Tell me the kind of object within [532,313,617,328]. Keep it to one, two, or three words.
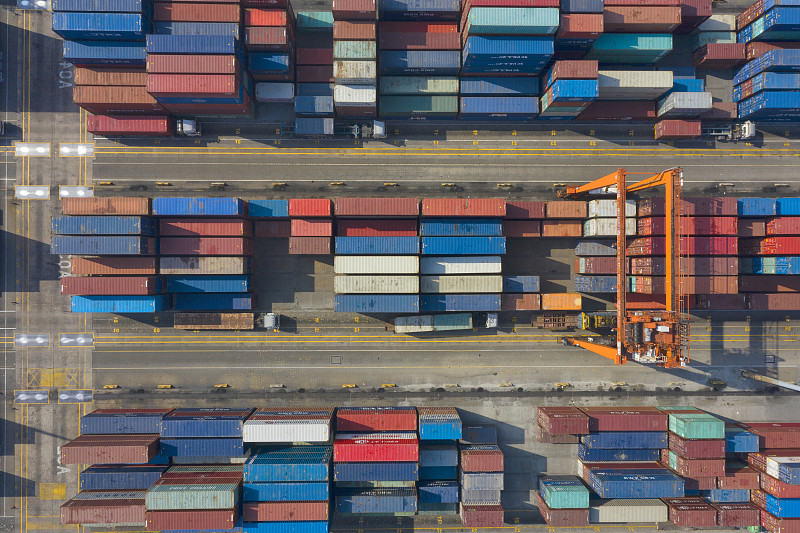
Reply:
vehicle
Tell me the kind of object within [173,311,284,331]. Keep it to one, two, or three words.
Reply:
vehicle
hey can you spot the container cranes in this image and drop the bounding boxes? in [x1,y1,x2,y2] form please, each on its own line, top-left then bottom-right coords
[560,166,692,368]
